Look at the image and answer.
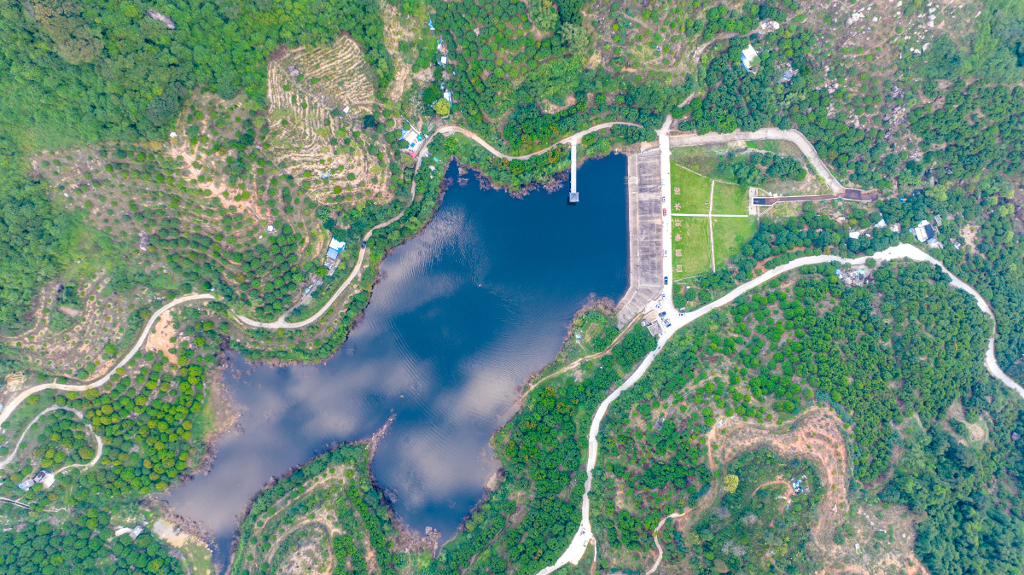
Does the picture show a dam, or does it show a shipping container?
dam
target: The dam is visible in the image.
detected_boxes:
[612,134,758,331]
